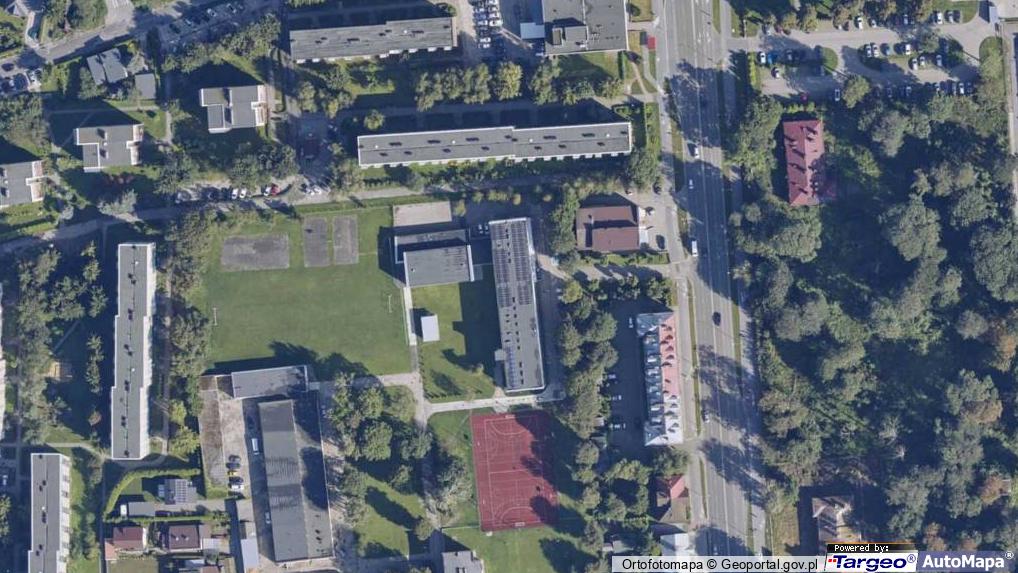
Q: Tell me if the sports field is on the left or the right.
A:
left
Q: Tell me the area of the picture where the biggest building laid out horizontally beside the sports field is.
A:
top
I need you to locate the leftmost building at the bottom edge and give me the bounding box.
[27,454,72,573]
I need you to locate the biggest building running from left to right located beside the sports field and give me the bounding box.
[358,122,632,174]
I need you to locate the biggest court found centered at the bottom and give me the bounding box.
[471,409,558,531]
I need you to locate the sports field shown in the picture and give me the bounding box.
[202,206,412,376]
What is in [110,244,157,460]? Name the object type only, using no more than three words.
building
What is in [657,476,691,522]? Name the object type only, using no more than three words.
house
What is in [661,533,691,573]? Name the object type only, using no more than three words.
house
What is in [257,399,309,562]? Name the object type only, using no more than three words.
building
